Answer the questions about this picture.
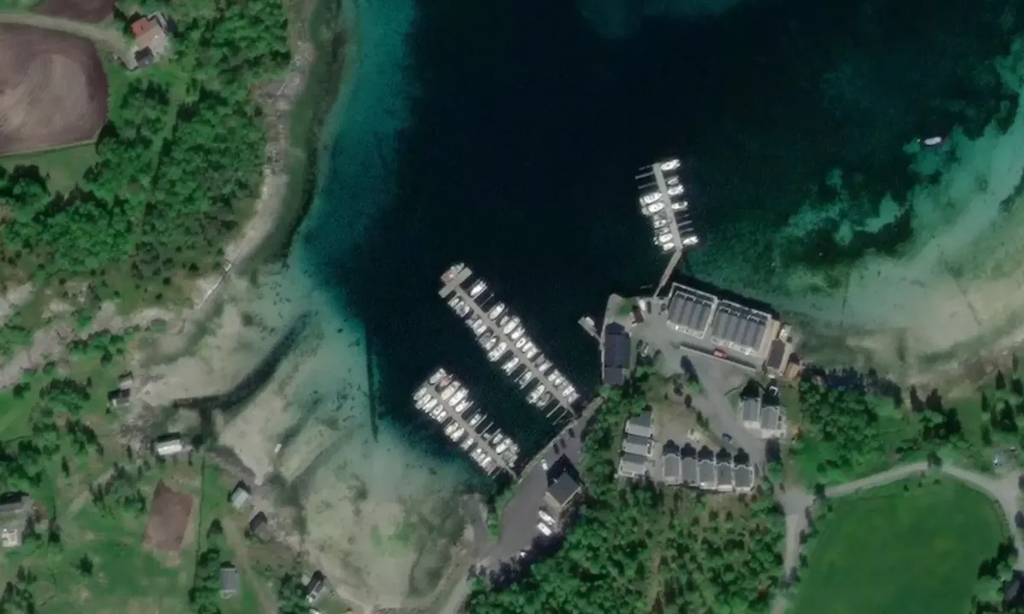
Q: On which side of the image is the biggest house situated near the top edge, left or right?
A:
left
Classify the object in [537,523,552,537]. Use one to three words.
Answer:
vehicle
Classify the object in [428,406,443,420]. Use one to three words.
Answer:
boat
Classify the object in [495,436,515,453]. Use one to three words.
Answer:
boat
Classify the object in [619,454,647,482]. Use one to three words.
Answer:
house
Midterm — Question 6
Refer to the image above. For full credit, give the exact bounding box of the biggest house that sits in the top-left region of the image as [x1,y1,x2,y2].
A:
[130,17,160,48]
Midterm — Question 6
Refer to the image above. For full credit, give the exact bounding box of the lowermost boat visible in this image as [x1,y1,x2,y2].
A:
[539,511,557,527]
